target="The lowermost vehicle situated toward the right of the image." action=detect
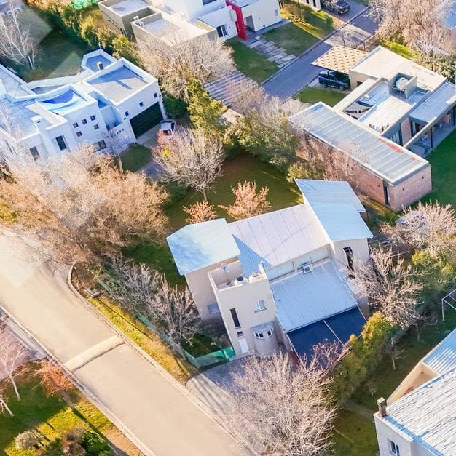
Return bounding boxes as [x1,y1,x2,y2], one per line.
[317,68,351,91]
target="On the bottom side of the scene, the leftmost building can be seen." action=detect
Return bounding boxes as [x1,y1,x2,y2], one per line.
[166,179,390,383]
